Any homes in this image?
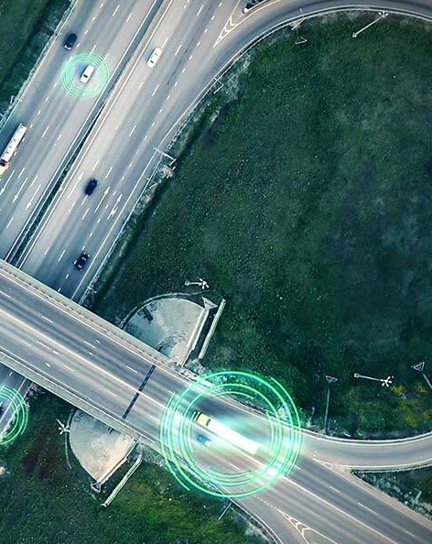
No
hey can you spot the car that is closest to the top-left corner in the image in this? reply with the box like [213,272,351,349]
[63,30,78,50]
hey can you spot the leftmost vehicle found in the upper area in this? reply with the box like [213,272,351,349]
[0,123,27,176]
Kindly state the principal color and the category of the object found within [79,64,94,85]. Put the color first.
white car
